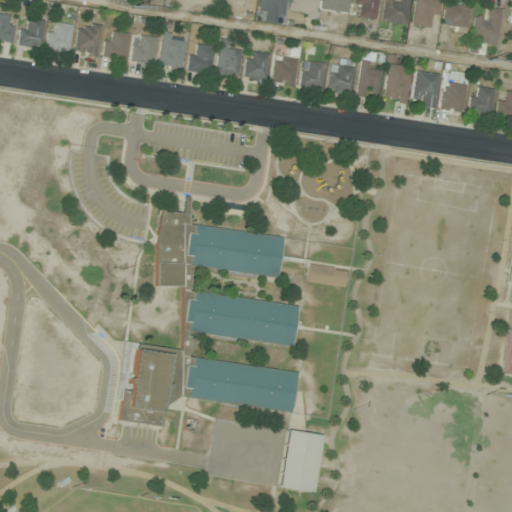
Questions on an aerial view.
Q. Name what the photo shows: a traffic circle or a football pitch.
football pitch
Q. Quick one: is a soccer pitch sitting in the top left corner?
No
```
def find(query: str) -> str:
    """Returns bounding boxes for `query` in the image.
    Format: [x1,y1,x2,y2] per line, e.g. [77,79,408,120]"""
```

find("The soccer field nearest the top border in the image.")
[369,172,497,370]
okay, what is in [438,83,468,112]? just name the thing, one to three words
house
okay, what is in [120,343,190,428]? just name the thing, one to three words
building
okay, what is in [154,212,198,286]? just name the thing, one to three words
building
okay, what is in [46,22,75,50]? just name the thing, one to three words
house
